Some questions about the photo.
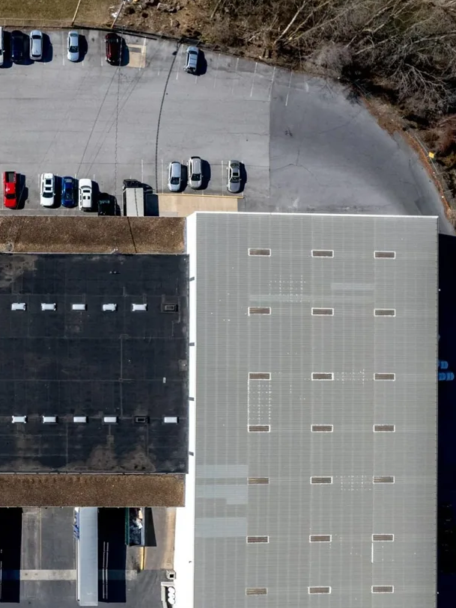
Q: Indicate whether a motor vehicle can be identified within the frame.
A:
Yes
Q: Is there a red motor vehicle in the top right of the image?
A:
No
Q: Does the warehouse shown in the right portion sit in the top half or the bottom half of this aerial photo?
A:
bottom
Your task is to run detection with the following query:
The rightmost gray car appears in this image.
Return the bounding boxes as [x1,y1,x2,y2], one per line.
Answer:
[227,159,243,193]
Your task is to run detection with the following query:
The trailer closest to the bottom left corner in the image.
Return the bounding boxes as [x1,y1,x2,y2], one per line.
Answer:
[74,506,98,606]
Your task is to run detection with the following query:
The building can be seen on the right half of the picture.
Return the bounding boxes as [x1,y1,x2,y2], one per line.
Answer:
[174,212,437,608]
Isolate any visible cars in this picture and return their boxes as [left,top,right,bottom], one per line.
[98,191,115,216]
[61,175,76,207]
[188,157,205,189]
[185,46,201,75]
[78,178,95,212]
[227,159,243,193]
[65,29,82,63]
[39,172,56,207]
[9,29,26,63]
[0,26,6,67]
[29,30,44,61]
[105,32,122,67]
[167,161,184,192]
